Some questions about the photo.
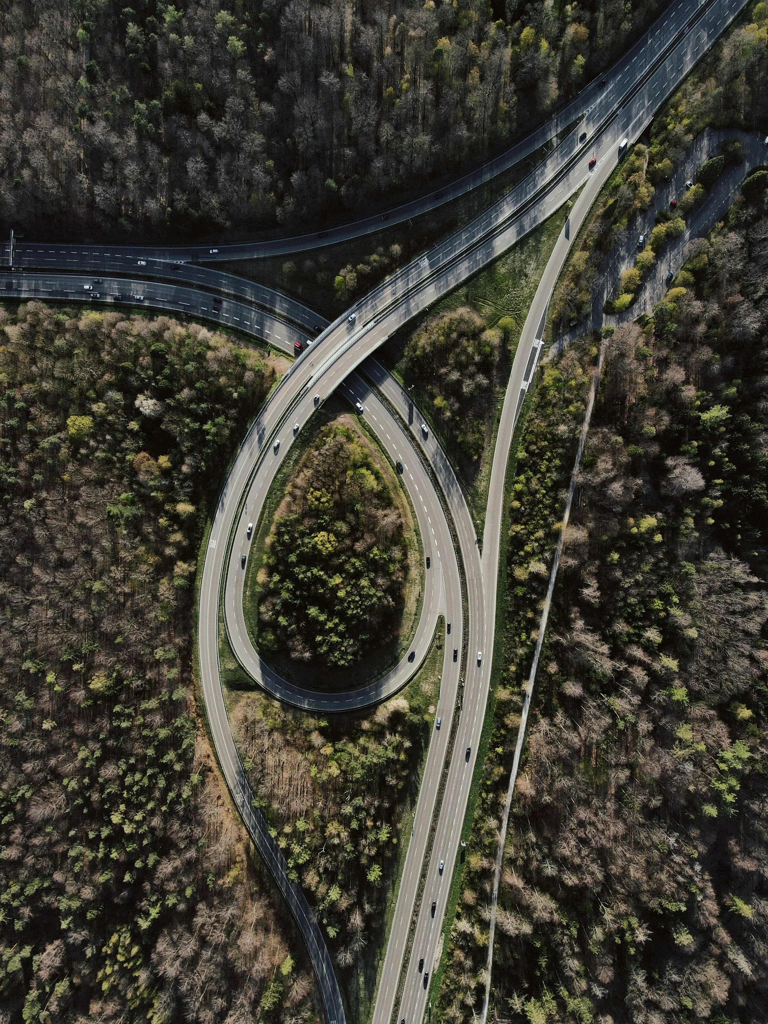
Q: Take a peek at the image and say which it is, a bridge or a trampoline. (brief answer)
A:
bridge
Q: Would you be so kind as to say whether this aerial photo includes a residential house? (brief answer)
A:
No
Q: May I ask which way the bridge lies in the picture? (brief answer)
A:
diagonally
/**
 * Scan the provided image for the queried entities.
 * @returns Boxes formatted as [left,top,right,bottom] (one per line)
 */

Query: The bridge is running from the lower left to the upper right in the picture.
[265,286,402,411]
